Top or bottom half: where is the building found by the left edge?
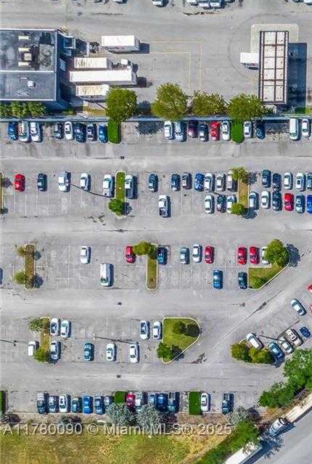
top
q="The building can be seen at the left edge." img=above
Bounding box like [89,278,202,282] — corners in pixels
[0,28,84,112]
